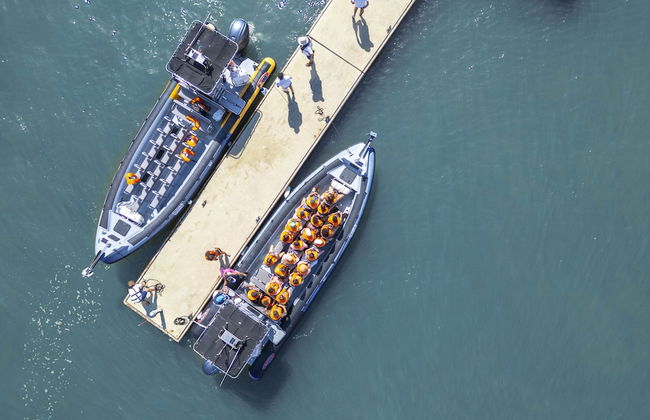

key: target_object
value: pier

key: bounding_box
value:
[122,0,416,341]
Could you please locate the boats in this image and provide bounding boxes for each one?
[79,9,277,278]
[189,131,381,389]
